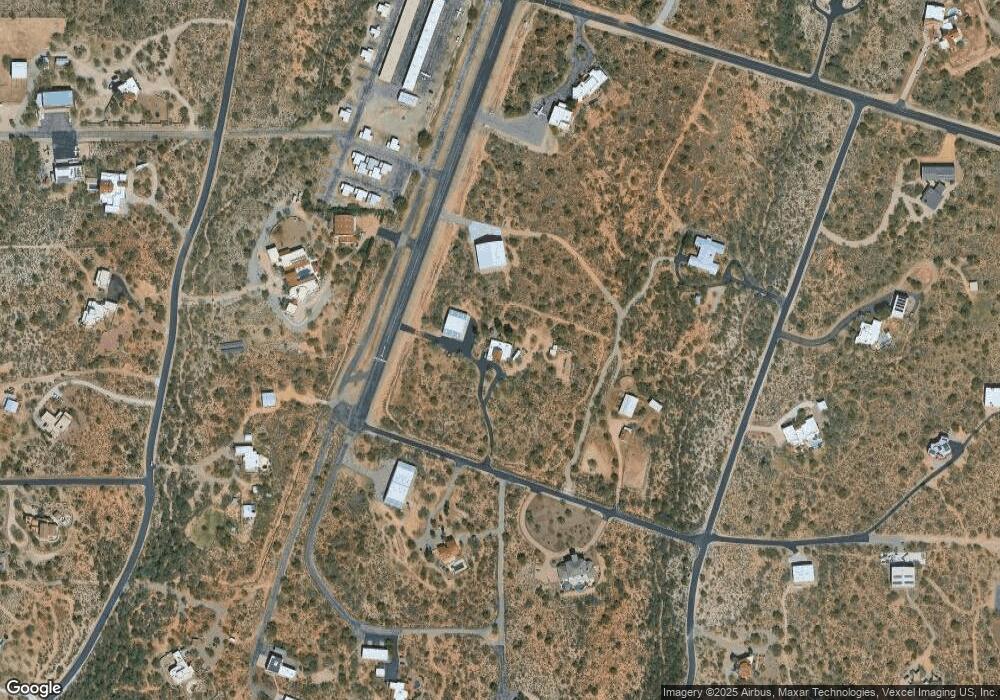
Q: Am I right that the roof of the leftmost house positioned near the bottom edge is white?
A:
Yes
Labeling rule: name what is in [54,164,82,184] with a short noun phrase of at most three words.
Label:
hangar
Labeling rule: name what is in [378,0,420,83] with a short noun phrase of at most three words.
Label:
building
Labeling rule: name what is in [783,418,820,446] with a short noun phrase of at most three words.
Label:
house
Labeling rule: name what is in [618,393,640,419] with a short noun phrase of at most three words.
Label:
shed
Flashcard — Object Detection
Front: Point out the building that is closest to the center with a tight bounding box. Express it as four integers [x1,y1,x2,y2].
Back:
[487,340,512,360]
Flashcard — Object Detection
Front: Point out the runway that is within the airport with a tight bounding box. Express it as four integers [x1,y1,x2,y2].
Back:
[353,0,517,423]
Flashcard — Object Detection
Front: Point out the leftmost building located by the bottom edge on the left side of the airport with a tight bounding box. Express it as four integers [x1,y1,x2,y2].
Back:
[170,651,194,684]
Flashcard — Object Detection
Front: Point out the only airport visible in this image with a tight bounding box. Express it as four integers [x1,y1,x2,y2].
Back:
[245,0,517,700]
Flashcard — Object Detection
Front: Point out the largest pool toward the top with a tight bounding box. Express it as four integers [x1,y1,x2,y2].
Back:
[296,265,314,281]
